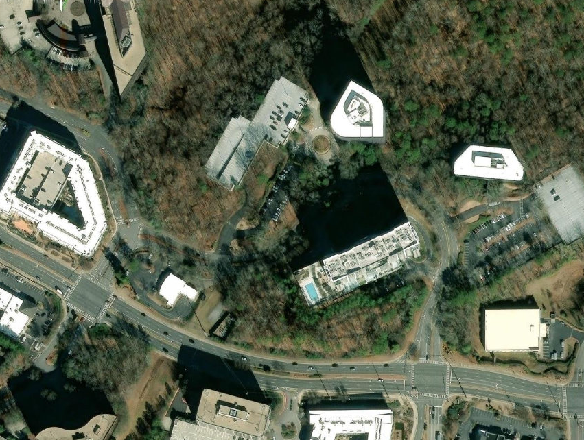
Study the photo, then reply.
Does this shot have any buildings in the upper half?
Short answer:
Yes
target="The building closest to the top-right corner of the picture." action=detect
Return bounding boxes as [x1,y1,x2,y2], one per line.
[453,146,524,182]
